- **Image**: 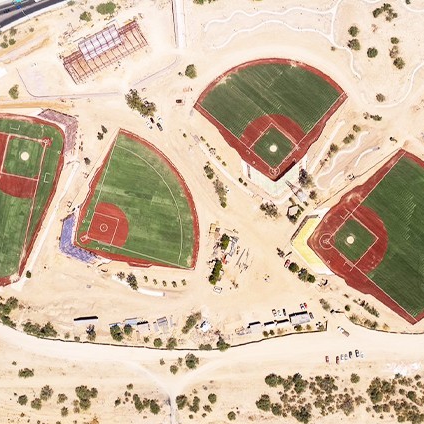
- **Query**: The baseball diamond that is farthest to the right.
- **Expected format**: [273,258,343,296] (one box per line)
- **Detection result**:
[308,149,424,324]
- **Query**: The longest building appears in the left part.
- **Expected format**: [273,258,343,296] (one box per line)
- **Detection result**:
[61,18,149,84]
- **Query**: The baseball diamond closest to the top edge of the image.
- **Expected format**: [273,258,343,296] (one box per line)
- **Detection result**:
[194,58,348,180]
